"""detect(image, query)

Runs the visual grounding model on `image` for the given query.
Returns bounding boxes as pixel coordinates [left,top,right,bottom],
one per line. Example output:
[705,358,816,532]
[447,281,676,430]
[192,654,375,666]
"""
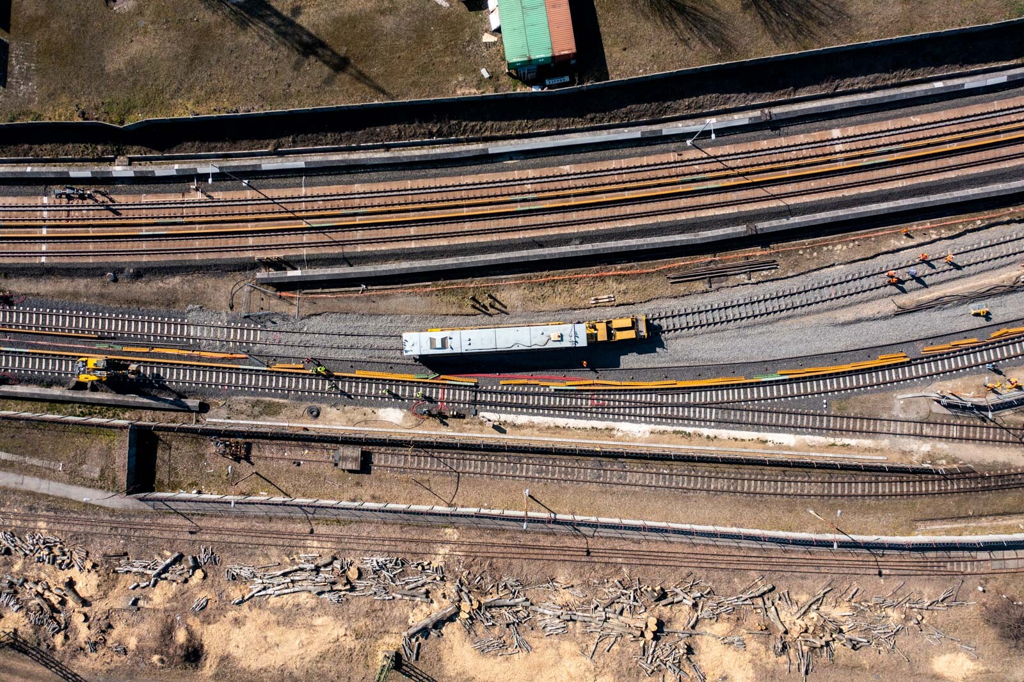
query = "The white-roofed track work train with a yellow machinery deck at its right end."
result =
[403,314,650,355]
